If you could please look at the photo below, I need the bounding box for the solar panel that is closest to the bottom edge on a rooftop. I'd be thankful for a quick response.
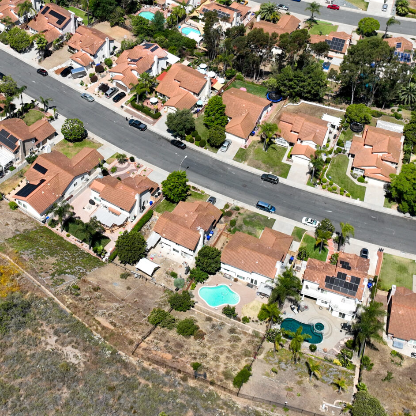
[319,273,366,299]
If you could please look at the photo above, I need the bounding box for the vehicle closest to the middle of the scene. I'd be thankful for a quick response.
[203,191,220,205]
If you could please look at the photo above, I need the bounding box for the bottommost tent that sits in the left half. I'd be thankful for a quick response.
[135,256,160,284]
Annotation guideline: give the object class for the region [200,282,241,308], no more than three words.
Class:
swimming pool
